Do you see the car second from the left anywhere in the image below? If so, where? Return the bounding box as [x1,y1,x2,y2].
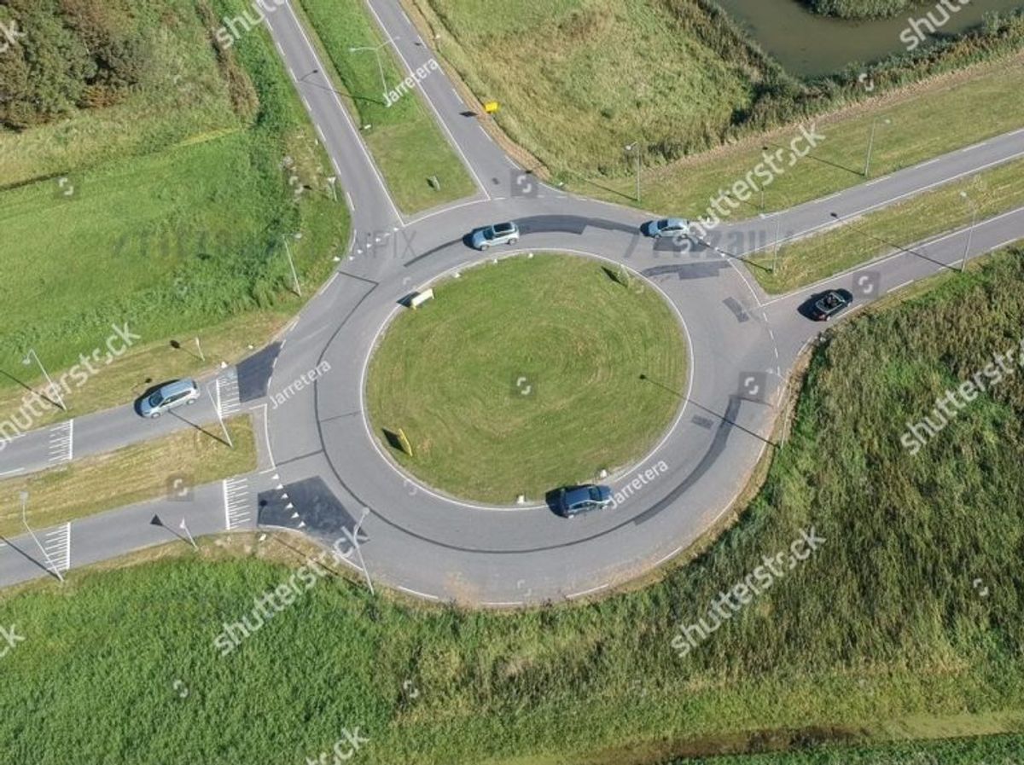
[474,222,521,250]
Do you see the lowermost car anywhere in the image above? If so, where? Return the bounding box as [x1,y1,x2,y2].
[555,483,614,519]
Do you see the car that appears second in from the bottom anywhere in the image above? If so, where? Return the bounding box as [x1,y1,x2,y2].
[140,378,200,418]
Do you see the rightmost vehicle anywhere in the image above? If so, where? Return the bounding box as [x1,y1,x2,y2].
[811,288,854,321]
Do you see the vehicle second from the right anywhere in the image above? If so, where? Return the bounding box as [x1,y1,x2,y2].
[649,217,693,238]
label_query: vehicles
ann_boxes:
[140,378,200,418]
[555,483,614,519]
[811,288,854,321]
[474,222,521,250]
[649,217,693,238]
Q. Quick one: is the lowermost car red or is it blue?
blue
